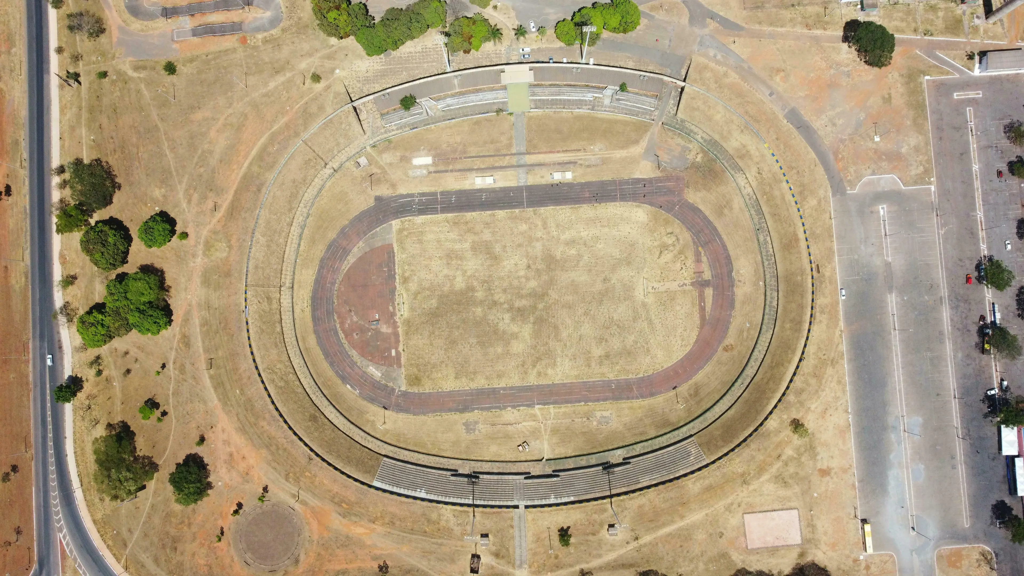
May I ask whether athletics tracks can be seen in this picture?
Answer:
Yes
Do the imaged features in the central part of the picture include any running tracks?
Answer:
Yes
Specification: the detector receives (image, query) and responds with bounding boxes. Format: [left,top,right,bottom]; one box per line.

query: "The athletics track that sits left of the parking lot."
[311,175,735,415]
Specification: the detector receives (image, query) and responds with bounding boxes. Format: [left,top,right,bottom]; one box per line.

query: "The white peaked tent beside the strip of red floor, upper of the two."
[996,424,1019,455]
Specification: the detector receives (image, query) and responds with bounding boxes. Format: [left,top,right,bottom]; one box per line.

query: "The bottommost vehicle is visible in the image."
[861,522,873,553]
